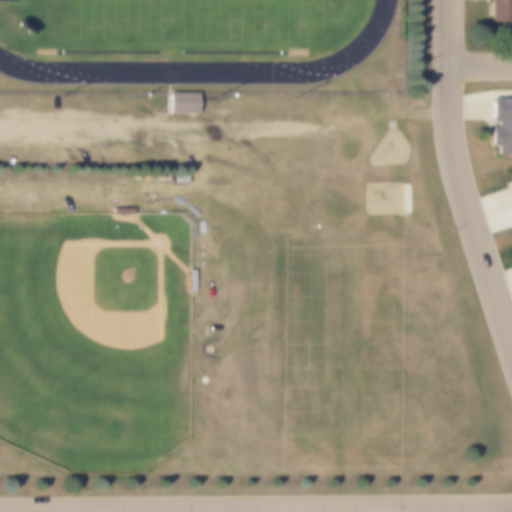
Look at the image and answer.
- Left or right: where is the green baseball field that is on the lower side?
left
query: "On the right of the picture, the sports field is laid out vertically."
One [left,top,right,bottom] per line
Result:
[284,216,406,470]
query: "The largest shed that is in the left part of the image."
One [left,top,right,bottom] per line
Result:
[169,92,204,114]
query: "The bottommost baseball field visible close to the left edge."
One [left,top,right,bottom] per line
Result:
[0,214,191,474]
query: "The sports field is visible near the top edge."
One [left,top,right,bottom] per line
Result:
[0,0,376,61]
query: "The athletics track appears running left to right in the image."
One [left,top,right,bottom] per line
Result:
[0,0,398,83]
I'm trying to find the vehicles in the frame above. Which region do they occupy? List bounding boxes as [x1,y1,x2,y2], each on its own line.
[484,254,491,266]
[211,324,224,330]
[65,196,76,210]
[54,96,60,108]
[35,497,49,502]
[210,282,216,296]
